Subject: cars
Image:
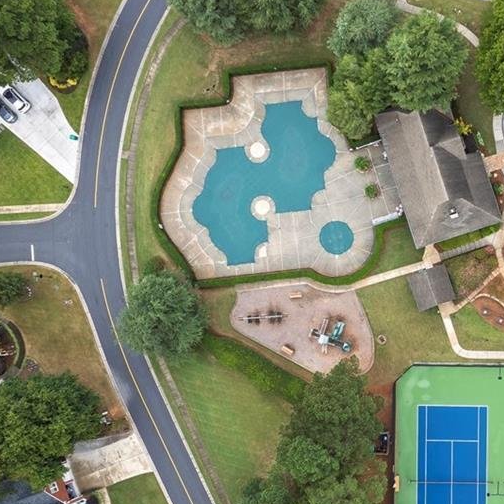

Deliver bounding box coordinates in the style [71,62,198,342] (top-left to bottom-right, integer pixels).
[0,99,20,127]
[1,84,31,114]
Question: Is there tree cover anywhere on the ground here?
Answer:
Yes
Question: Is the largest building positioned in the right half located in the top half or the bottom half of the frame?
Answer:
top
